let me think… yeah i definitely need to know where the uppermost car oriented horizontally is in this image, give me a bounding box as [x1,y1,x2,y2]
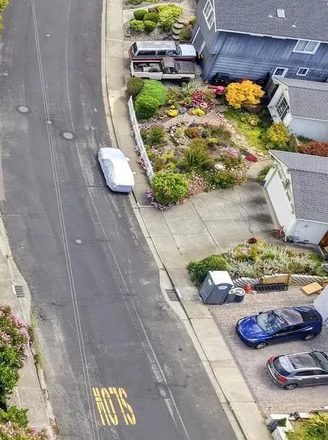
[133,39,198,64]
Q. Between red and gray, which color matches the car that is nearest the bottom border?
gray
